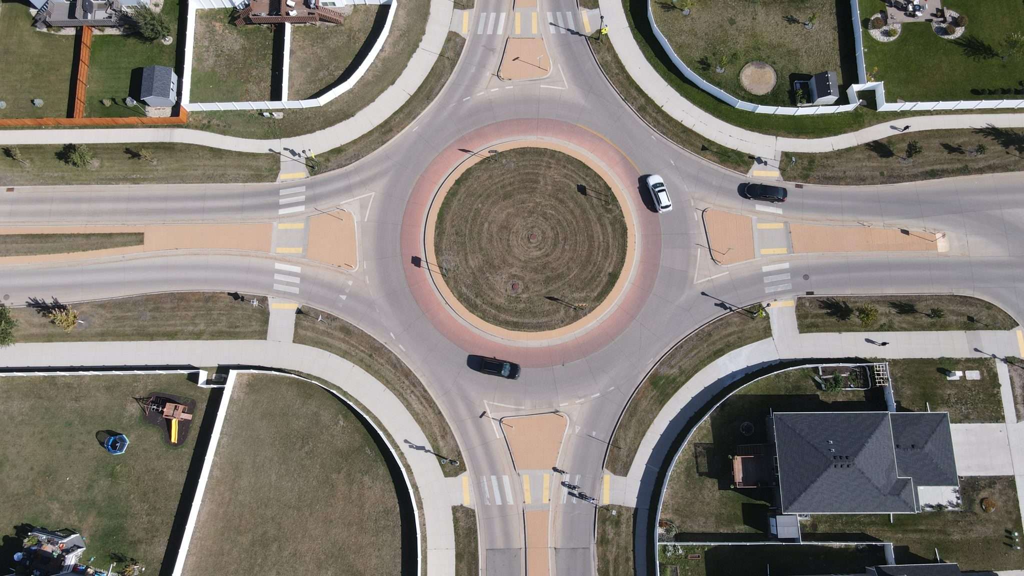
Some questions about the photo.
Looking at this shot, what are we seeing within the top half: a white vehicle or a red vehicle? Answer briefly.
white vehicle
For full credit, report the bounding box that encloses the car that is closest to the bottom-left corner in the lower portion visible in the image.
[479,356,522,380]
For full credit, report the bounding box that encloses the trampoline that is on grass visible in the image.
[102,435,127,454]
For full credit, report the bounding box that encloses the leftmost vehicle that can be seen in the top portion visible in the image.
[649,173,676,212]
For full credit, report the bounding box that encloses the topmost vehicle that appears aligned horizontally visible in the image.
[746,180,791,204]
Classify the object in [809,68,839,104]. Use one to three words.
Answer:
shed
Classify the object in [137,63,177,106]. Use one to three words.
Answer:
shed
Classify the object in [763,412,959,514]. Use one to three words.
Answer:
house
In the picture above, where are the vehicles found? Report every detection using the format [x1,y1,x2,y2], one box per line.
[649,173,676,212]
[479,356,522,380]
[746,180,791,204]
